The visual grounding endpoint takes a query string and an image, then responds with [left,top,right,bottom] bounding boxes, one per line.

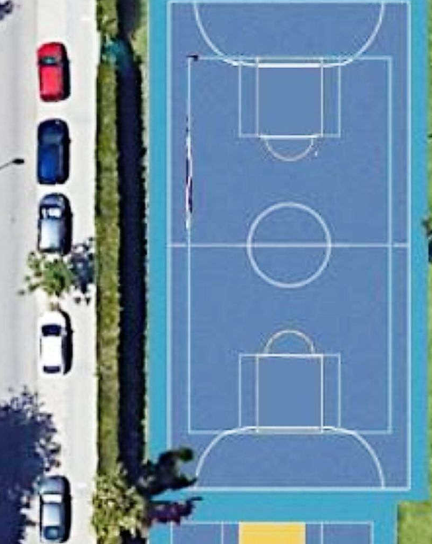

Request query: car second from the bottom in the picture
[38,312,66,374]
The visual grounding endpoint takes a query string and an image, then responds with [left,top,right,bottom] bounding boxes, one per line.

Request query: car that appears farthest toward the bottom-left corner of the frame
[38,477,66,543]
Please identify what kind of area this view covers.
sports ground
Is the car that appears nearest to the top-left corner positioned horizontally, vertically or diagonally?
vertically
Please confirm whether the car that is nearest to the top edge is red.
Yes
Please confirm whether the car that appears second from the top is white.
No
